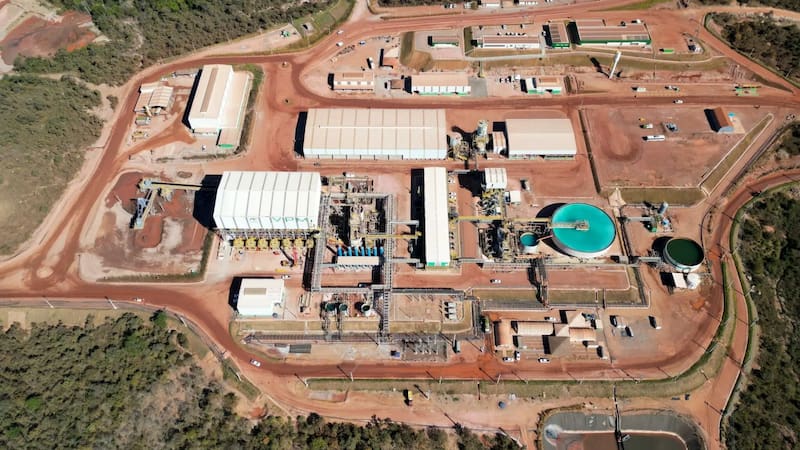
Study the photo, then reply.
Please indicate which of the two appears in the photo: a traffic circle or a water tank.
water tank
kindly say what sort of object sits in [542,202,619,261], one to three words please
storage tank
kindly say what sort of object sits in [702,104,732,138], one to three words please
barn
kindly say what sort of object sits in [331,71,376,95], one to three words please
building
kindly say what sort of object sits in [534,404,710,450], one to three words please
pond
